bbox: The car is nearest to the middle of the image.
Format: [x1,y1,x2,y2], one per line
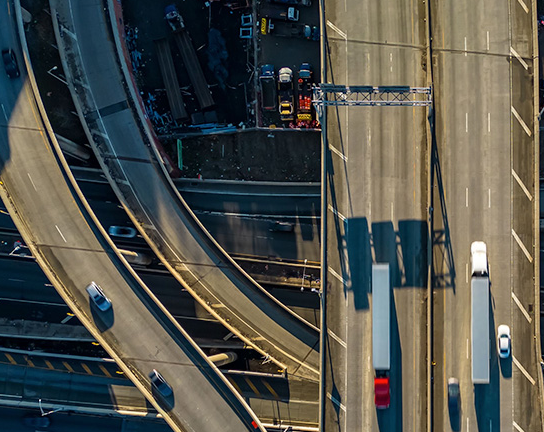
[271,220,296,233]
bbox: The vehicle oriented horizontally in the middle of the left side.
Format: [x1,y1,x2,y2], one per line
[110,225,138,238]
